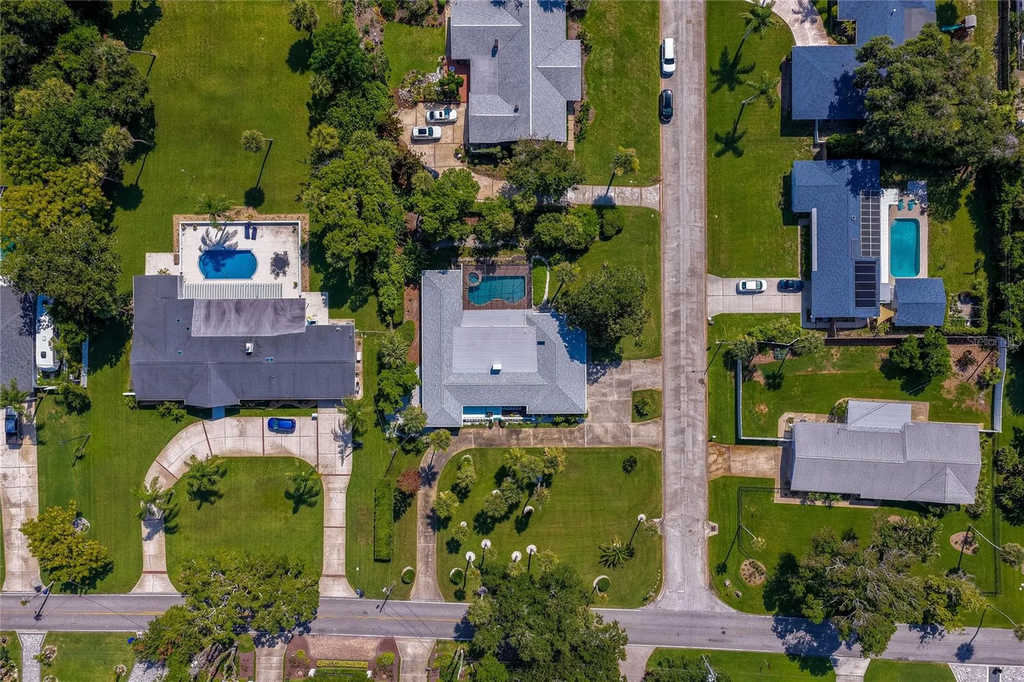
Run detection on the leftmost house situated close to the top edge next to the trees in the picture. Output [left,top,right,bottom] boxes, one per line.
[451,0,581,146]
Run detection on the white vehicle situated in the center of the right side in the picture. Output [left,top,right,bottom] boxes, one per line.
[736,279,766,293]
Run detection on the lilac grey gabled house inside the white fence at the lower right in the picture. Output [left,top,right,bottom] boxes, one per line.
[788,401,981,504]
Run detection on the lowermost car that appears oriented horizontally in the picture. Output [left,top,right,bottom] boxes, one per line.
[268,418,297,432]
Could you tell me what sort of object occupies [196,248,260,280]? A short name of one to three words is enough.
swimming pool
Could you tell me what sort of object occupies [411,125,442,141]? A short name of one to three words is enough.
car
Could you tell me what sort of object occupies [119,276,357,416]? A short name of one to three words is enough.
house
